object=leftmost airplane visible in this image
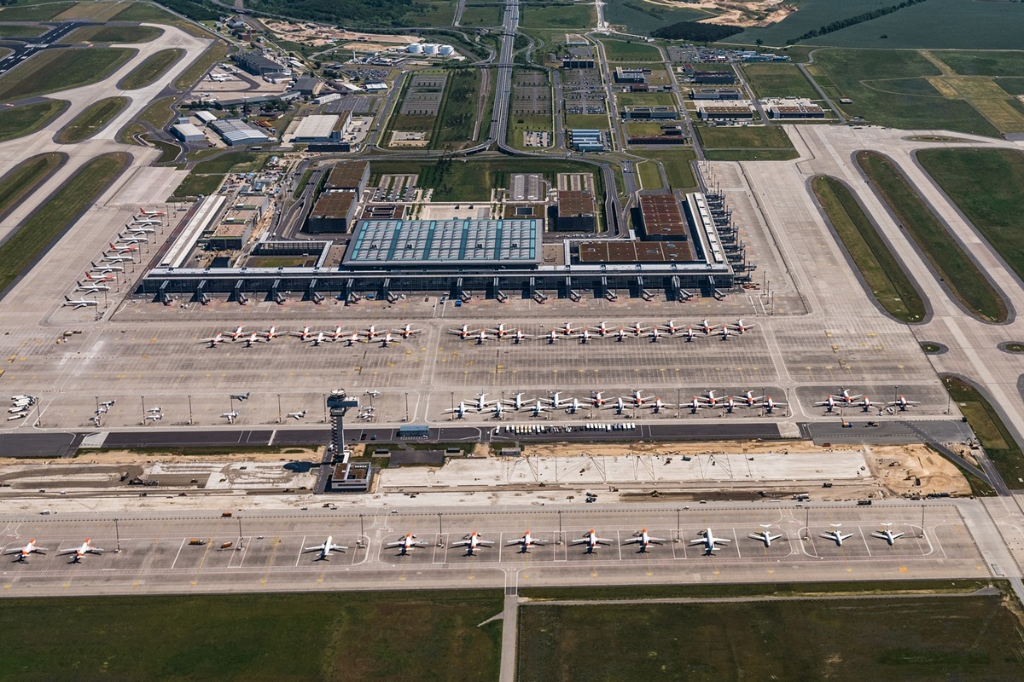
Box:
[4,535,47,554]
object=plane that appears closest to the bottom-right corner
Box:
[874,518,904,539]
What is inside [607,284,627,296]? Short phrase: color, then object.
gray jet bridge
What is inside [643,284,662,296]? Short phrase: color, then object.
gray jet bridge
